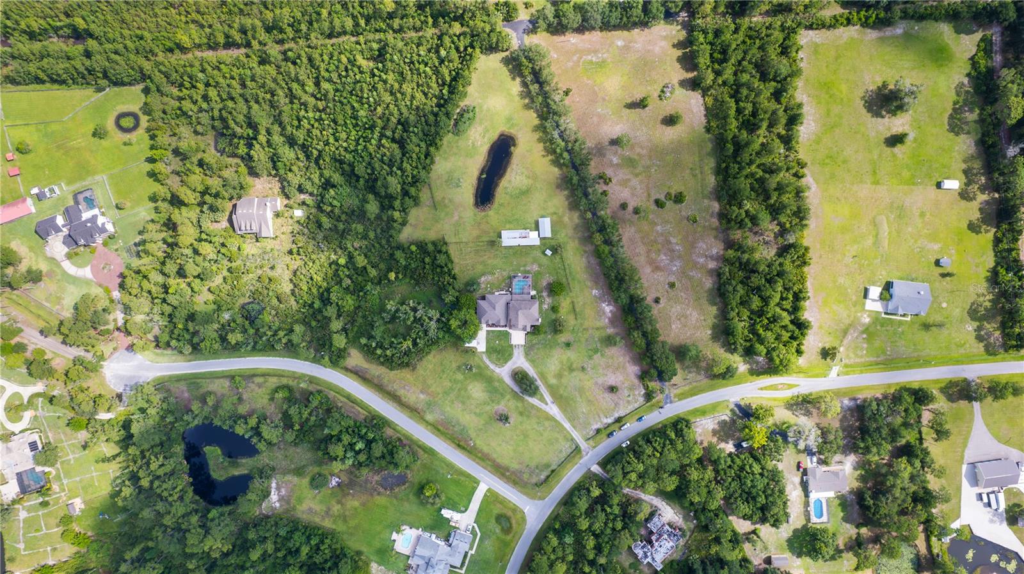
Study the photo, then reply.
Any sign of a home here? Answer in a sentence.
Yes, the photo shows a home.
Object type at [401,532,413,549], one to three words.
swimming pool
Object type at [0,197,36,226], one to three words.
barn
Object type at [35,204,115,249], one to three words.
house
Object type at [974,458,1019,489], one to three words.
building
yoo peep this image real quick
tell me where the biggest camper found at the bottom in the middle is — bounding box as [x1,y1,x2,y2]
[440,510,460,524]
